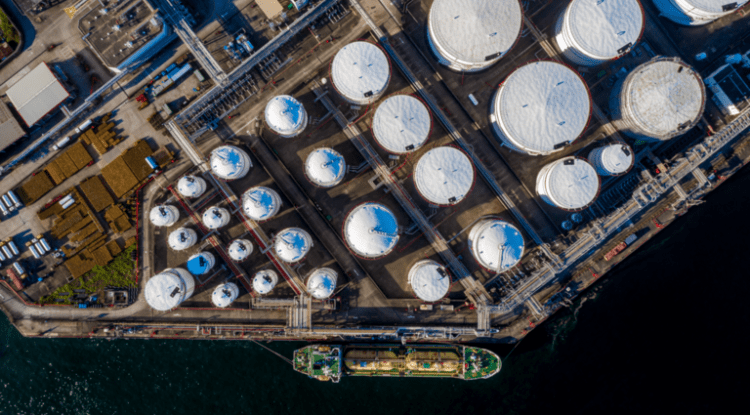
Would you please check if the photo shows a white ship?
No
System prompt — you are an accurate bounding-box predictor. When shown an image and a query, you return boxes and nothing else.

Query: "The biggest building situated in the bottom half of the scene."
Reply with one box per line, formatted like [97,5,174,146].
[103,290,129,304]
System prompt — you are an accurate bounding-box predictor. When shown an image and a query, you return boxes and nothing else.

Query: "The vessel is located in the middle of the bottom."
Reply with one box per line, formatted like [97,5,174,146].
[293,342,502,382]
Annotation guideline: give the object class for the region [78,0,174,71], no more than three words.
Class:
building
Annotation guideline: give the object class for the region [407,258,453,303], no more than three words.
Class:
storage tank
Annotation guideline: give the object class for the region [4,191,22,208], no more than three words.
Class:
vehicle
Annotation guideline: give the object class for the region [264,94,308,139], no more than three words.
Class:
storage tank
